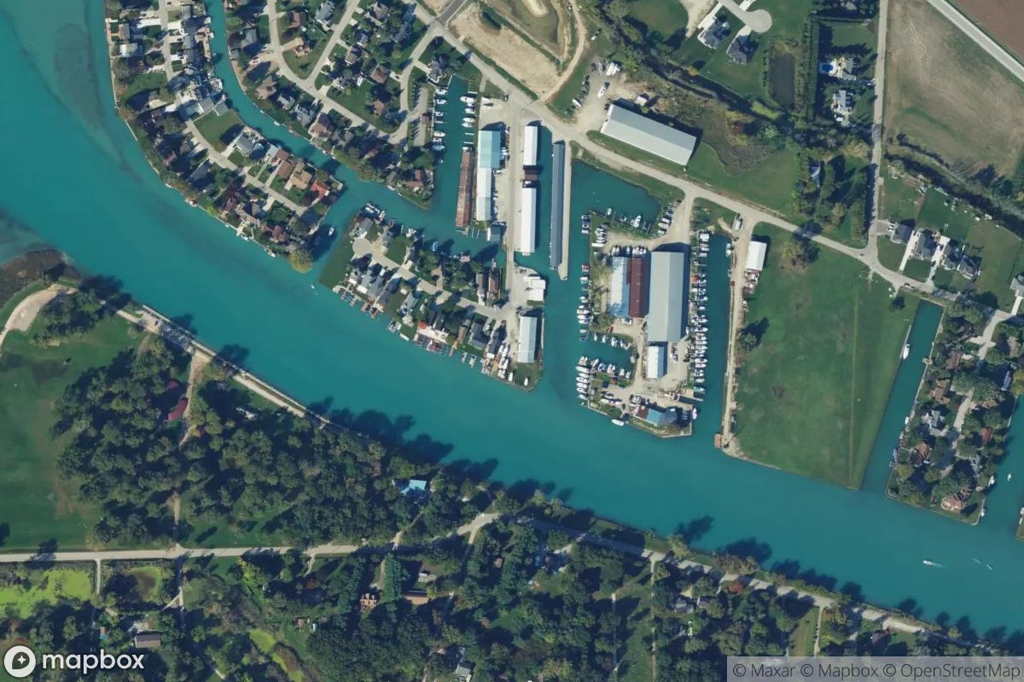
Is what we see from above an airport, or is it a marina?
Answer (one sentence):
This looks like a marina.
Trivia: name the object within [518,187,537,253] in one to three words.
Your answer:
building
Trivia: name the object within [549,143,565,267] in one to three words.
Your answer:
building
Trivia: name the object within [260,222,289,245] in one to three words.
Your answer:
house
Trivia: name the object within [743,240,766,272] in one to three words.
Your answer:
shed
